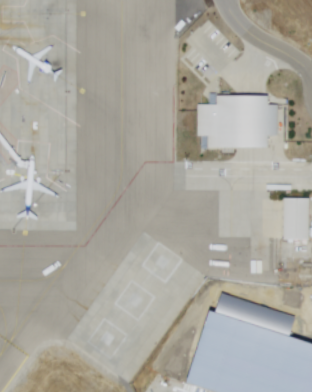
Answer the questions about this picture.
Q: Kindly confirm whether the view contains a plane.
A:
Yes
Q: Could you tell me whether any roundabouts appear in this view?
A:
No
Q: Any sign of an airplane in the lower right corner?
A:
No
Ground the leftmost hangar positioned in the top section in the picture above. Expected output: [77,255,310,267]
[197,92,278,152]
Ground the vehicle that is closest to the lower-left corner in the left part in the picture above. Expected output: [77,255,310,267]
[42,260,61,274]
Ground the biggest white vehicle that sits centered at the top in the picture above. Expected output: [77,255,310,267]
[172,18,187,32]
